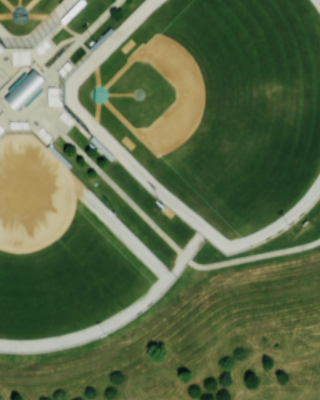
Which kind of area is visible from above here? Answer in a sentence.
The area seen from above is a sports ground.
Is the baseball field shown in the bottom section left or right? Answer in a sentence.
The baseball field shown in the bottom section is on the left side of the image.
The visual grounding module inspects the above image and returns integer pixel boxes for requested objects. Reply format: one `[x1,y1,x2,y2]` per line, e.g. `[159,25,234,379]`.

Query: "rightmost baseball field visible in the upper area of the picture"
[65,0,320,256]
